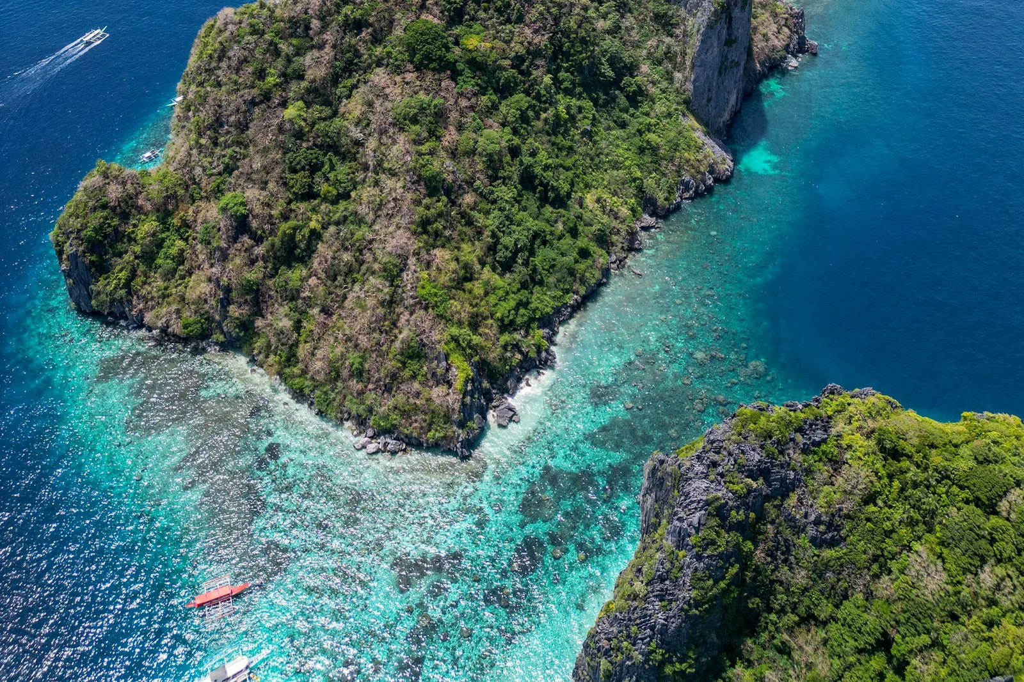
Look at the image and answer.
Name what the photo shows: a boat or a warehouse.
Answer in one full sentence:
The one in the frame is a boat.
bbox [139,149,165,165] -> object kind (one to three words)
boat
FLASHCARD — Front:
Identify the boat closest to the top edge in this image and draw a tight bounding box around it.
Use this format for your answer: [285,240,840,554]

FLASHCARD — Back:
[77,26,110,45]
